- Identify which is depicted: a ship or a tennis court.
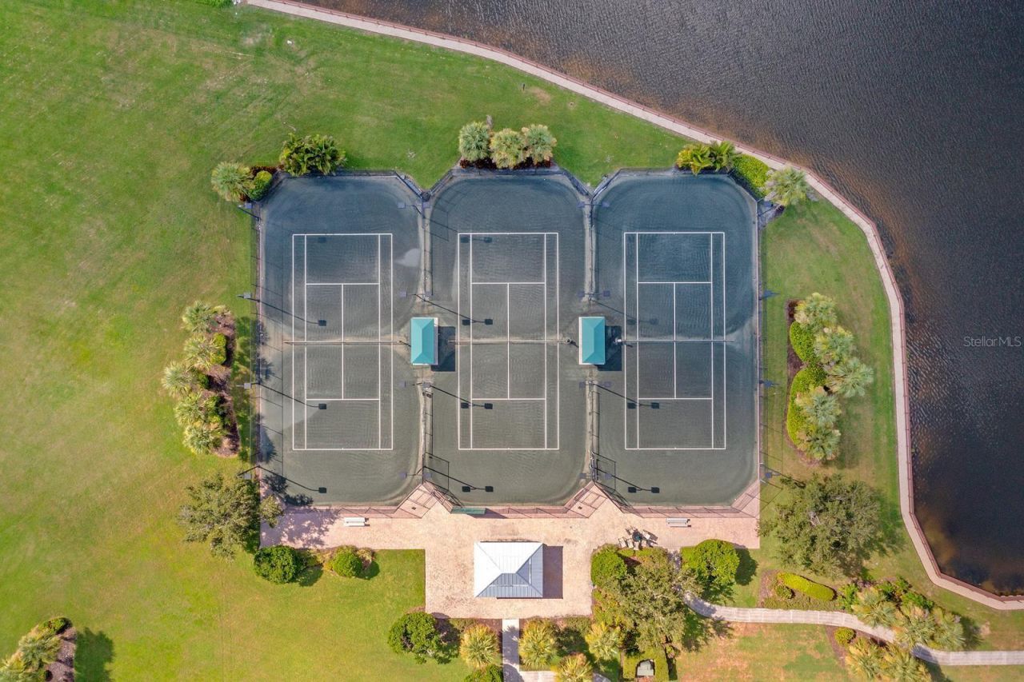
tennis court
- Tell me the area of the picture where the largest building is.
bottom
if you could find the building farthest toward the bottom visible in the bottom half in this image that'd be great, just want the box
[474,540,543,599]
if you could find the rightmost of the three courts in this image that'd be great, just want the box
[595,174,759,507]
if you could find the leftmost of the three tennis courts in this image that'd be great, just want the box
[260,176,424,507]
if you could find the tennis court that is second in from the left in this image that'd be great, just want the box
[427,174,591,507]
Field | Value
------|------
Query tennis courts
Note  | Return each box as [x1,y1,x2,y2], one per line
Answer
[595,174,759,507]
[260,176,424,507]
[427,174,591,507]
